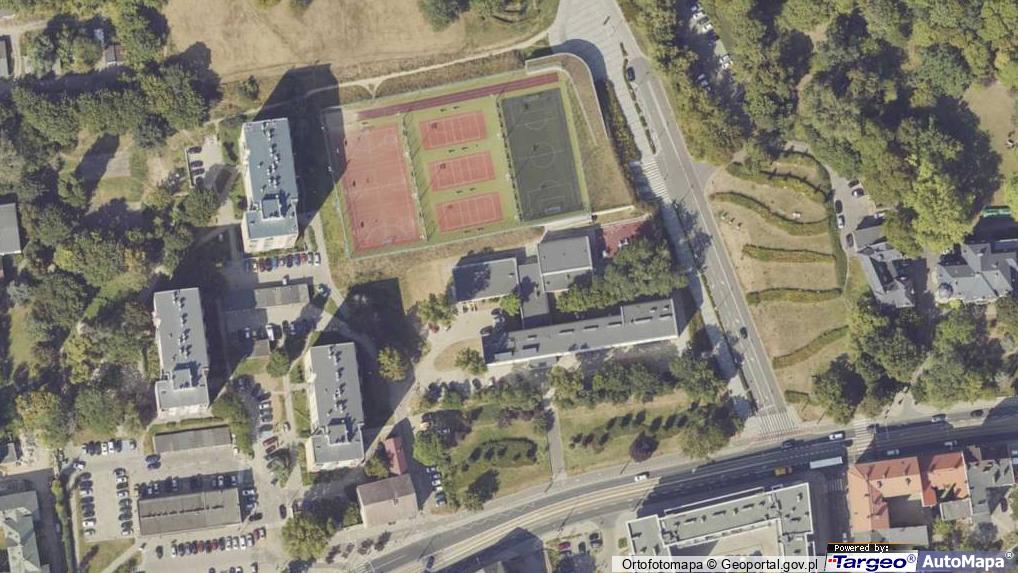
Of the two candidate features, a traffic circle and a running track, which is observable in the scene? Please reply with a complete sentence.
I can see a running track in this picture.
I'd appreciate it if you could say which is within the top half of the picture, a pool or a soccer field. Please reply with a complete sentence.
The one visible within the top half of the picture is a soccer field.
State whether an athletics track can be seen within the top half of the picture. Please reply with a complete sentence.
Yes, looking within the top half of the picture, one can make out an athletics track.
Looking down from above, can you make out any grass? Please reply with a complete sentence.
Yes, grass shows up in the scene.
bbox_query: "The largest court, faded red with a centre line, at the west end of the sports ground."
[342,124,421,253]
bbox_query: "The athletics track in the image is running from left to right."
[358,73,560,119]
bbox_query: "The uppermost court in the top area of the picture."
[421,111,487,148]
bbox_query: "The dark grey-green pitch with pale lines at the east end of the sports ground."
[503,88,583,221]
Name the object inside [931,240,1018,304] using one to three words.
house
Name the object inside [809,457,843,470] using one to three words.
vehicle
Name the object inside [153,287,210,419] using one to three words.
building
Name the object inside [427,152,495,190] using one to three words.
sports court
